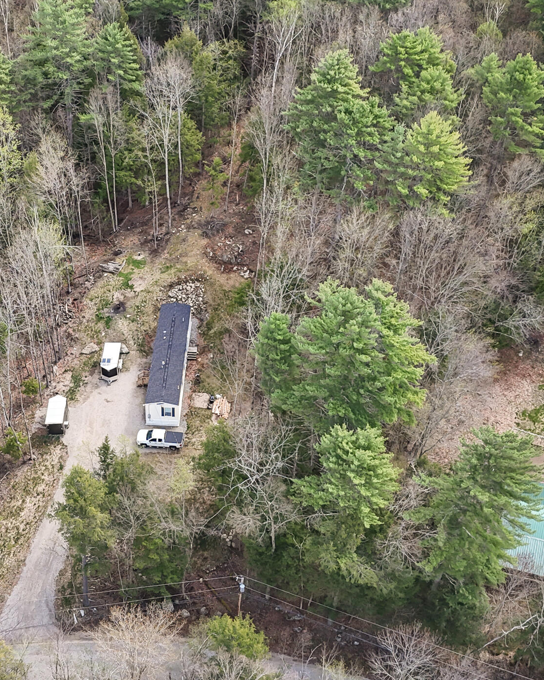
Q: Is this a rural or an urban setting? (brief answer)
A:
rural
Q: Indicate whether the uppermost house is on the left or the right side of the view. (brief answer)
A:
left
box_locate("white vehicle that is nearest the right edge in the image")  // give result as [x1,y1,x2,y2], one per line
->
[135,427,187,450]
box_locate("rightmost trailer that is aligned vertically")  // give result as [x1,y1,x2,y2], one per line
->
[101,342,125,391]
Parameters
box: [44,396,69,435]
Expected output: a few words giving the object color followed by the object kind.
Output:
white trailer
